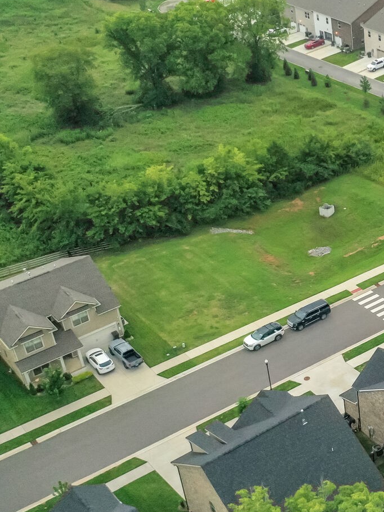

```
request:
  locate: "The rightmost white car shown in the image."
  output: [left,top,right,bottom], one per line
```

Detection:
[366,56,384,71]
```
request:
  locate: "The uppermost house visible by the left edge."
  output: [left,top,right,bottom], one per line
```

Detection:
[0,254,131,390]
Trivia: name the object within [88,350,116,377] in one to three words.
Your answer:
car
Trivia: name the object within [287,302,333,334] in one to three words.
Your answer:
car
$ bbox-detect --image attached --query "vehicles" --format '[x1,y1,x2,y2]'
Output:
[109,340,144,371]
[88,350,116,377]
[243,323,286,353]
[366,56,384,71]
[304,37,327,48]
[287,302,333,334]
